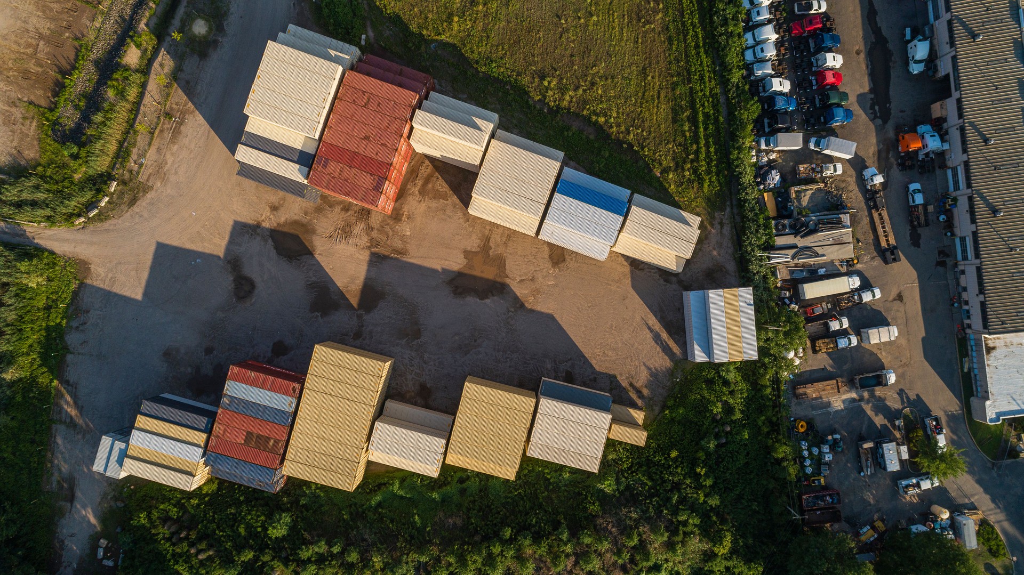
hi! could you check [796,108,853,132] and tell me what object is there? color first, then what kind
blue truck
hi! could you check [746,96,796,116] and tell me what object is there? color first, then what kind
blue vehicle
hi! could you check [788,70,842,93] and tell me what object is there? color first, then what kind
red truck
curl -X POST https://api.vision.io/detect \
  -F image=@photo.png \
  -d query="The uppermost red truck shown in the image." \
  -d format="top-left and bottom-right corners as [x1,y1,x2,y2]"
[786,14,838,39]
